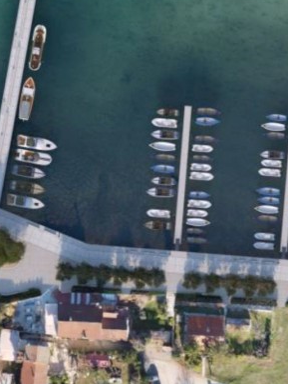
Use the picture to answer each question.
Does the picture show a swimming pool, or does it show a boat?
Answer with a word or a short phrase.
boat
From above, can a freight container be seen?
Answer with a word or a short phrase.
No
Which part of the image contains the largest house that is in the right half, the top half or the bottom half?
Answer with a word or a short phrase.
bottom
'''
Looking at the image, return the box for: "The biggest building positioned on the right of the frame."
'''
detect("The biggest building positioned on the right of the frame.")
[188,314,225,343]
